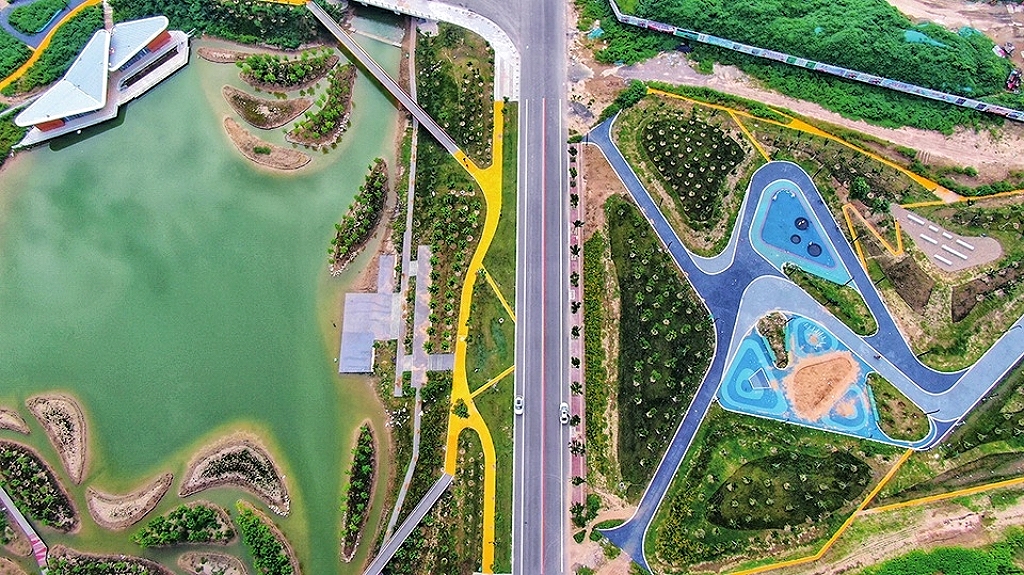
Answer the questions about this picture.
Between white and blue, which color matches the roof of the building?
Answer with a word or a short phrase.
white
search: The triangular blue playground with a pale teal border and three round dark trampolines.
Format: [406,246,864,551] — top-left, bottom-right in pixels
[749,179,862,293]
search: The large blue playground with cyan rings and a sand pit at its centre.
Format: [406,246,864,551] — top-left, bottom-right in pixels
[719,311,937,447]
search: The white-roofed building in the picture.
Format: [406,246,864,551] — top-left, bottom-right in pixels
[12,14,194,151]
